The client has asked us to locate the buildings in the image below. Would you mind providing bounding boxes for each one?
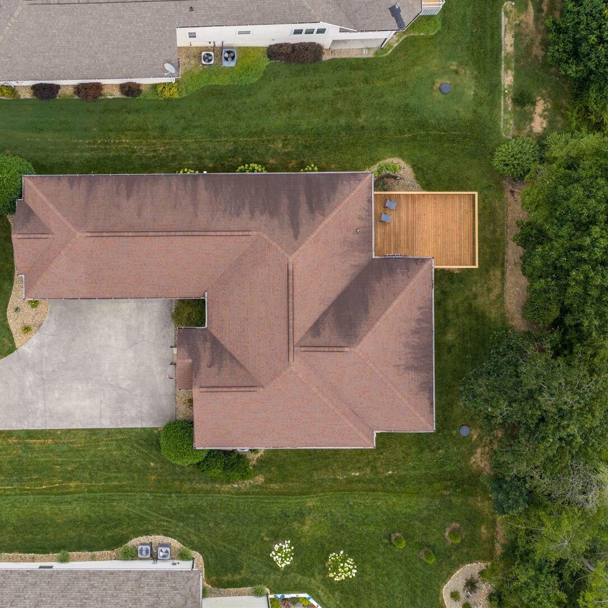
[11,170,437,451]
[0,0,424,90]
[0,544,272,608]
